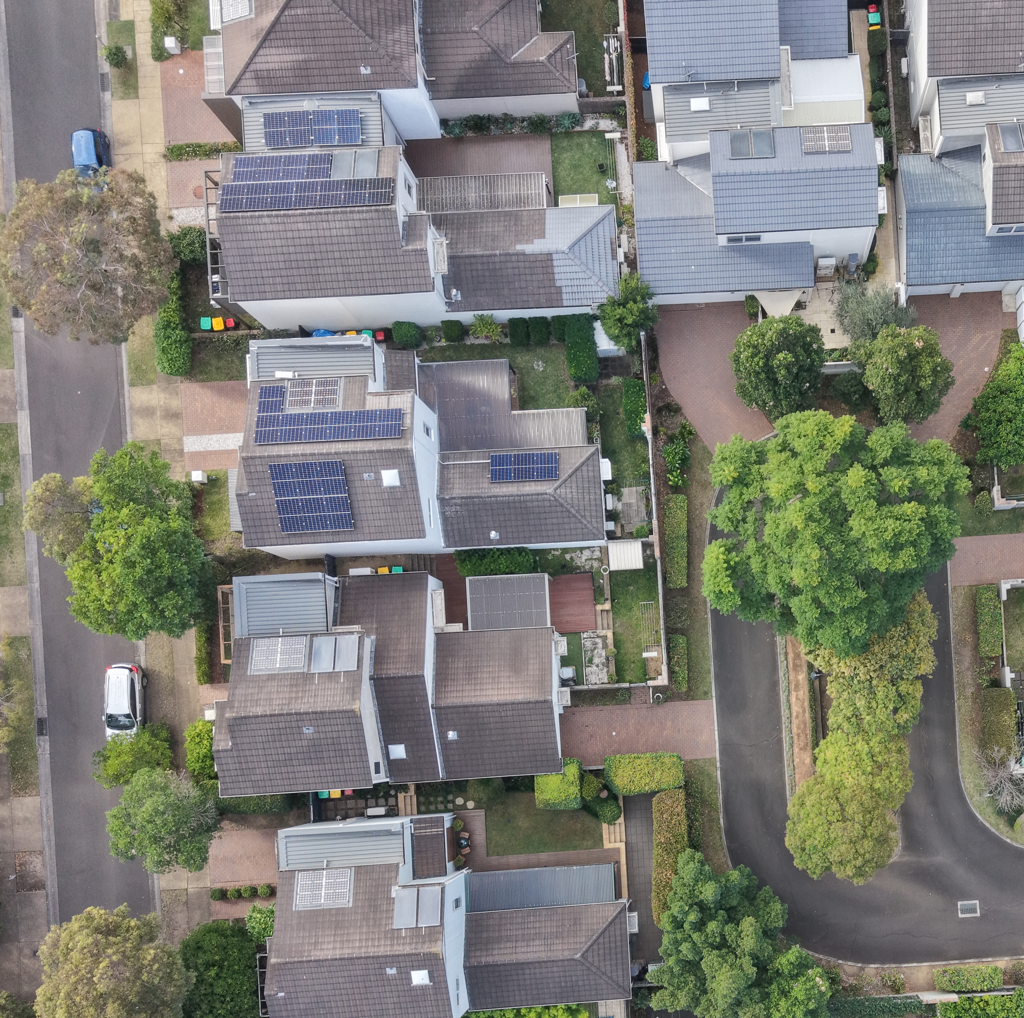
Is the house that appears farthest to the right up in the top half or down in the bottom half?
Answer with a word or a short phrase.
top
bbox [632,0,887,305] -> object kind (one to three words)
house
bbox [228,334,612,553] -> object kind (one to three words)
house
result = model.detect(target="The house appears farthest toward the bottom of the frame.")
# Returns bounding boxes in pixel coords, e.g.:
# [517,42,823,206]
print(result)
[257,813,638,1018]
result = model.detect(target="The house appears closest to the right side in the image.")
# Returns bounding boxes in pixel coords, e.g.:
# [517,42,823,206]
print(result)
[898,0,1024,297]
